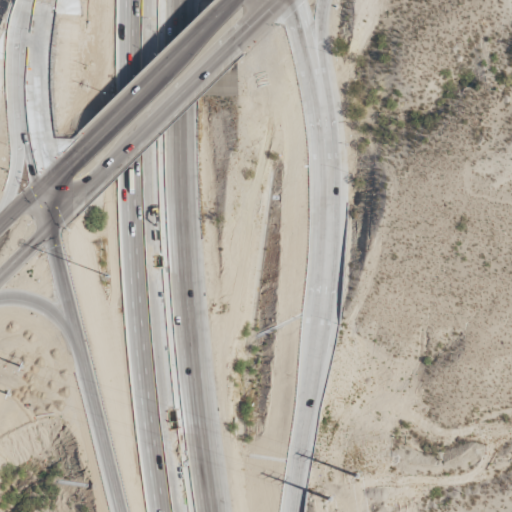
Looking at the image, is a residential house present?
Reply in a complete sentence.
No, no residential house can be seen from above.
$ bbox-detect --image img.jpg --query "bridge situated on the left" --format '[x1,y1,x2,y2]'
[84,0,243,188]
